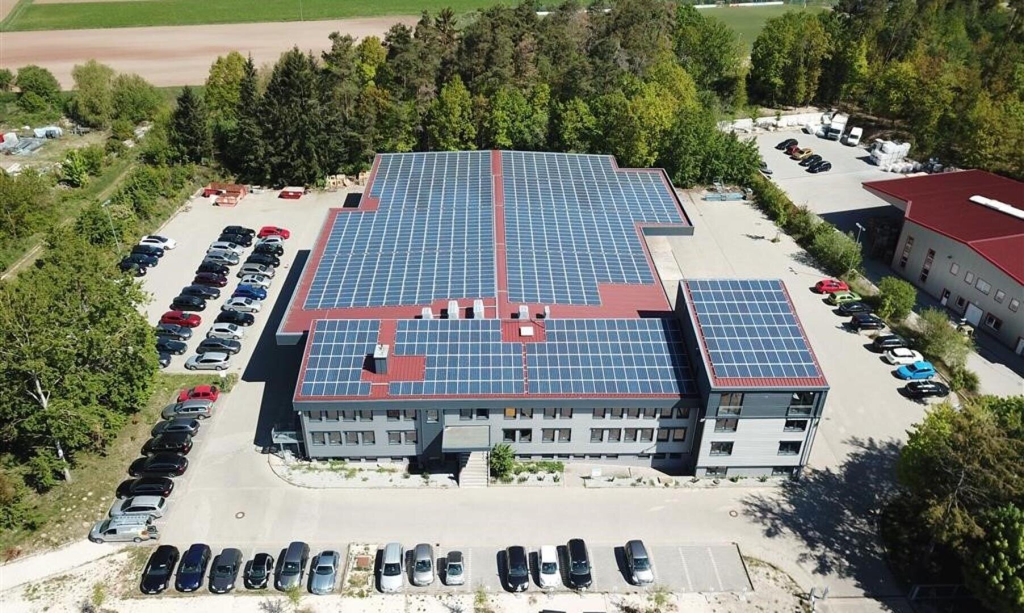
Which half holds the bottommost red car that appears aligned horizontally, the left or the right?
left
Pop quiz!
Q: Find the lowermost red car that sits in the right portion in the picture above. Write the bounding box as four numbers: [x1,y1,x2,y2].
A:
[814,279,850,295]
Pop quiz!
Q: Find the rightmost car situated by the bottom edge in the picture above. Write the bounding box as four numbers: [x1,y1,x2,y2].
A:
[623,536,657,590]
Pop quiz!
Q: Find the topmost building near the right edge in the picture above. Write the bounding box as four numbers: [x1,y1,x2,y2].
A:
[860,157,1024,353]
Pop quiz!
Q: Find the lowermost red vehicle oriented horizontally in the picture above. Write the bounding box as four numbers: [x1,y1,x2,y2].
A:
[177,383,221,403]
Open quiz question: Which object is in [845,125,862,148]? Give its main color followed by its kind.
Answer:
white vehicle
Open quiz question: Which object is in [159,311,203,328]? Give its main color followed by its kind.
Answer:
red car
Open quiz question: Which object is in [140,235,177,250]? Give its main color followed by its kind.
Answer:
white car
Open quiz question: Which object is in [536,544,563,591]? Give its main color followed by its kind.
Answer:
white car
